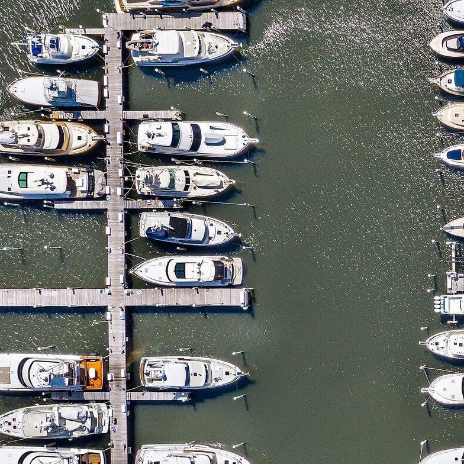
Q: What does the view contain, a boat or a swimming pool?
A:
boat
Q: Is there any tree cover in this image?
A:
No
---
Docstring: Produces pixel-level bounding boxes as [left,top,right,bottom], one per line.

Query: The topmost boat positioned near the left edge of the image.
[15,31,103,66]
